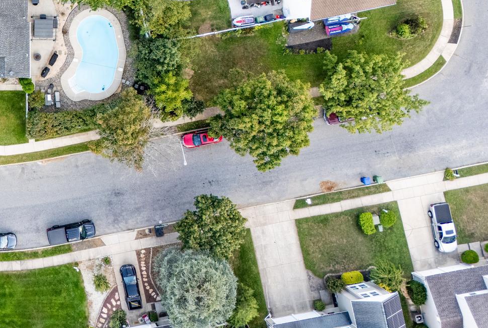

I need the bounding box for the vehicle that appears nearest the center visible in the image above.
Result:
[180,129,223,149]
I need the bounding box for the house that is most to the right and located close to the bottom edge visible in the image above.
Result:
[413,257,488,328]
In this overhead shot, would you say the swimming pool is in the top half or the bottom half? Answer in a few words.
top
